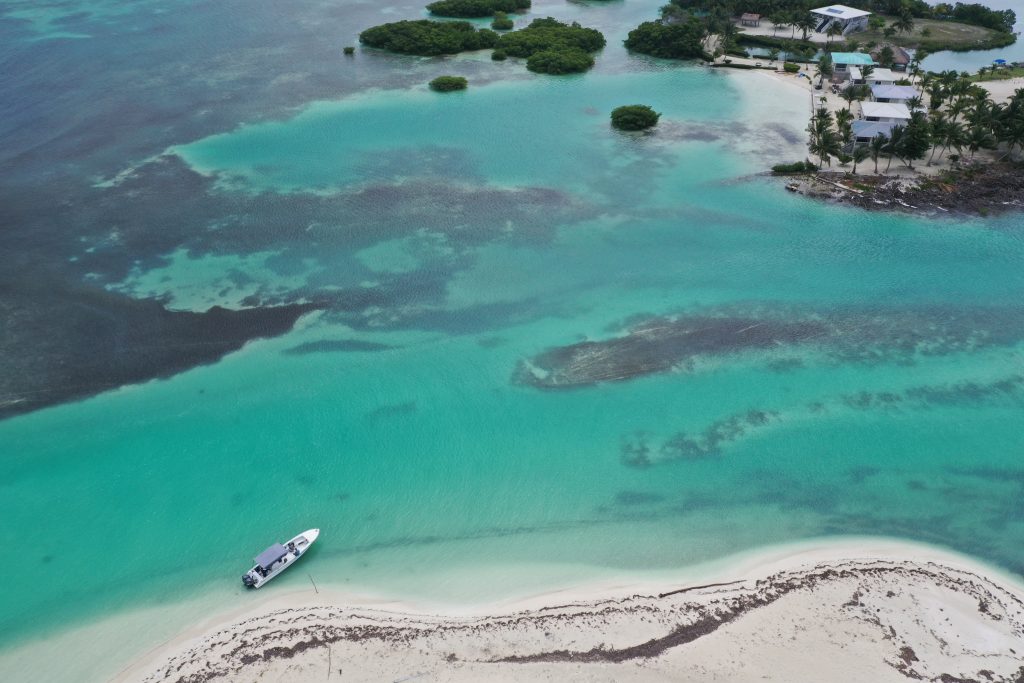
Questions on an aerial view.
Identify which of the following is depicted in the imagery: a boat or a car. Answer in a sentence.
Looking from above, you can make out a boat.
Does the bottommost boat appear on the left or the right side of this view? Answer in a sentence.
The bottommost boat sits on the left side.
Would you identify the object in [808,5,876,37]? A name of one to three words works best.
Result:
house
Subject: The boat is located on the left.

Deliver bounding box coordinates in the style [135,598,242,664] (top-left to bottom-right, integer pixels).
[243,530,320,591]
